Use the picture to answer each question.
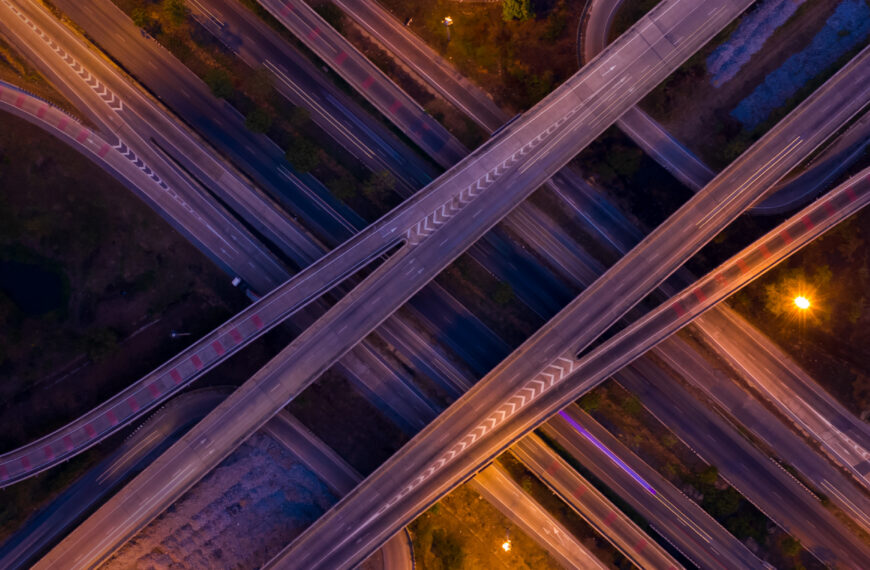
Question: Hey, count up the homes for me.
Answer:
zero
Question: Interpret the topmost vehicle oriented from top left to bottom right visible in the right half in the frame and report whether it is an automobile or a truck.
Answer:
truck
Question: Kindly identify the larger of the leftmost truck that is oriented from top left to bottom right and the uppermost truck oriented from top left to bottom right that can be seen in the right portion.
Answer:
the uppermost truck oriented from top left to bottom right that can be seen in the right portion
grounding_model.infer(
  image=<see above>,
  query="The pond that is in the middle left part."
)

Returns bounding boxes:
[0,260,71,316]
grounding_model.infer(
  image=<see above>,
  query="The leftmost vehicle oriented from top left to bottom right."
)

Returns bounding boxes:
[231,278,257,302]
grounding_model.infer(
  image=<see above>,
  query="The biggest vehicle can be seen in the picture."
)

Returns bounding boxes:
[565,414,655,493]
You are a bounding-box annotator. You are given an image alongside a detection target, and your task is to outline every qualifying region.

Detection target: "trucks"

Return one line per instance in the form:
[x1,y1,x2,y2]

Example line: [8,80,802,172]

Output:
[565,414,655,493]
[231,278,257,302]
